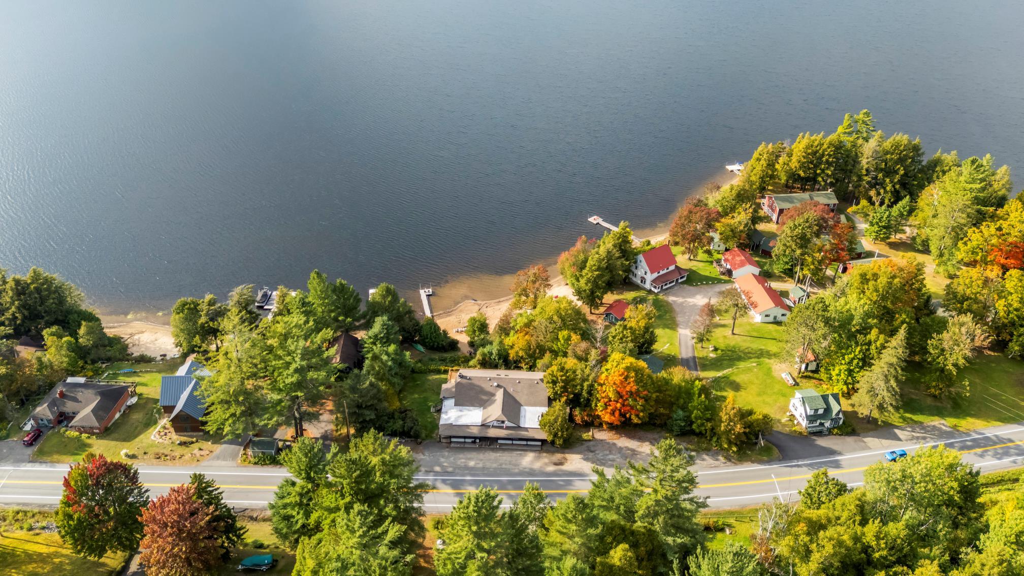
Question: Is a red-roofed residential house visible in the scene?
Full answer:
Yes, a red-roofed residential house appears in the view.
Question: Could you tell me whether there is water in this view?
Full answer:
Yes, the picture does contain water.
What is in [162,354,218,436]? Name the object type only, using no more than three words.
house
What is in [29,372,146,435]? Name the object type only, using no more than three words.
house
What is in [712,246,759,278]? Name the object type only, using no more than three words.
building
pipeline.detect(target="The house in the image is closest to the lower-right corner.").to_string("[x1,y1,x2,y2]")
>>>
[796,389,844,434]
